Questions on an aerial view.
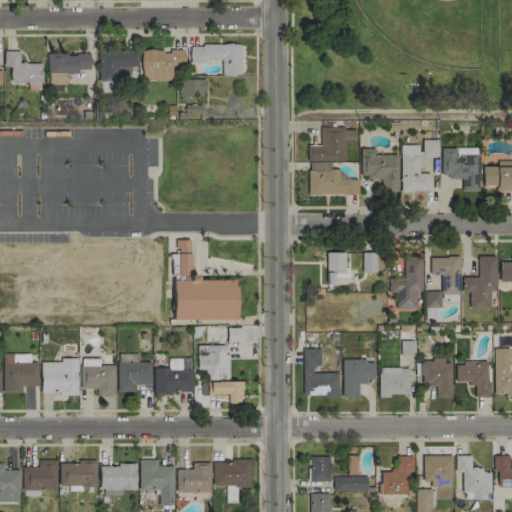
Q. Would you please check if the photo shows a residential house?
Yes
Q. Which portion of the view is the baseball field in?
top right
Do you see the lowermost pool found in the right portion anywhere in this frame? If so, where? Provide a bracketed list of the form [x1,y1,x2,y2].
[361,451,374,474]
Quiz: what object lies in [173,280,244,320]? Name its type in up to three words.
building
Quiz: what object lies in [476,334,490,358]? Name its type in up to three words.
swimming pool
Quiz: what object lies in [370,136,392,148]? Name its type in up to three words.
swimming pool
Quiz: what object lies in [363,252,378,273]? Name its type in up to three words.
house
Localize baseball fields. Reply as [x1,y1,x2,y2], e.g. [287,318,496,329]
[357,0,482,70]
